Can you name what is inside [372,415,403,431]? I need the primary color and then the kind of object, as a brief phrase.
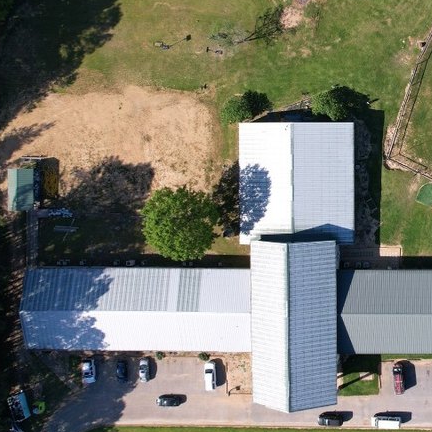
white vehicle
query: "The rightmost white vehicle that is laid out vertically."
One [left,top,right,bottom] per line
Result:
[202,363,217,396]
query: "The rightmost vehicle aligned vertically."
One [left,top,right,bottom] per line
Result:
[393,363,407,397]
